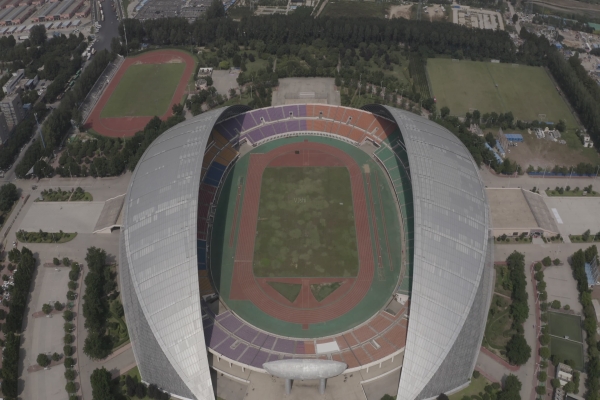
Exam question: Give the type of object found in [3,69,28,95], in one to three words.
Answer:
building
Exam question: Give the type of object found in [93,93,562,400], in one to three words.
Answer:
stadium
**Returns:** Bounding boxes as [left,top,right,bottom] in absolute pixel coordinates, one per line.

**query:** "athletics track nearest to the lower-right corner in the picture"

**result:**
[203,134,409,340]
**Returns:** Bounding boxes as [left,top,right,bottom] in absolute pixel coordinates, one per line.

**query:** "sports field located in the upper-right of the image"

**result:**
[427,59,580,128]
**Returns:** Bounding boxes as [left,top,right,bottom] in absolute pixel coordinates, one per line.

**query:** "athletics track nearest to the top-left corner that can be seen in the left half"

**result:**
[87,47,198,140]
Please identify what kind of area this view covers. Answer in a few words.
sports ground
